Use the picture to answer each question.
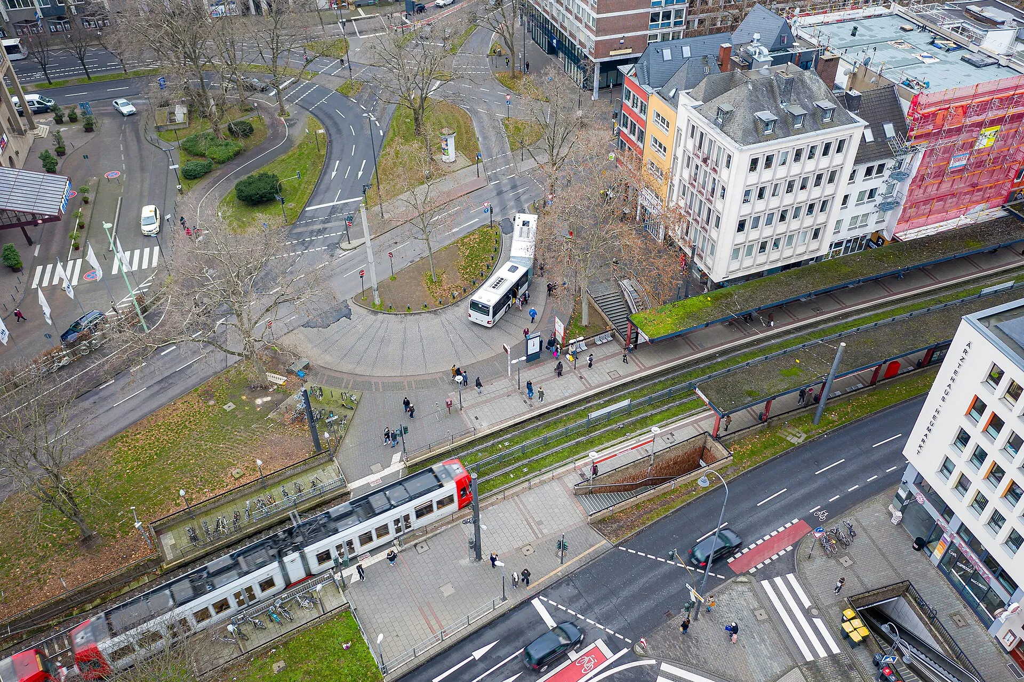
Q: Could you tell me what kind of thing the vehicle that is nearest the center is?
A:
bus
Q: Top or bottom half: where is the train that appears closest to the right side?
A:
bottom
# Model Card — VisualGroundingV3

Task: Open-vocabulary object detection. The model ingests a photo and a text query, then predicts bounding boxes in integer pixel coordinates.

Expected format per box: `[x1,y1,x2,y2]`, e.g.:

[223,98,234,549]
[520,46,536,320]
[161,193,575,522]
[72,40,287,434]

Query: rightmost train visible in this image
[53,461,478,682]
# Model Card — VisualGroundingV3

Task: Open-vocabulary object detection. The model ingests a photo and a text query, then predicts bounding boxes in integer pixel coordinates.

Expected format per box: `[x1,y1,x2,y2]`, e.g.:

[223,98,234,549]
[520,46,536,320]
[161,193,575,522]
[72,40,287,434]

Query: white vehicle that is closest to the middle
[471,214,536,325]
